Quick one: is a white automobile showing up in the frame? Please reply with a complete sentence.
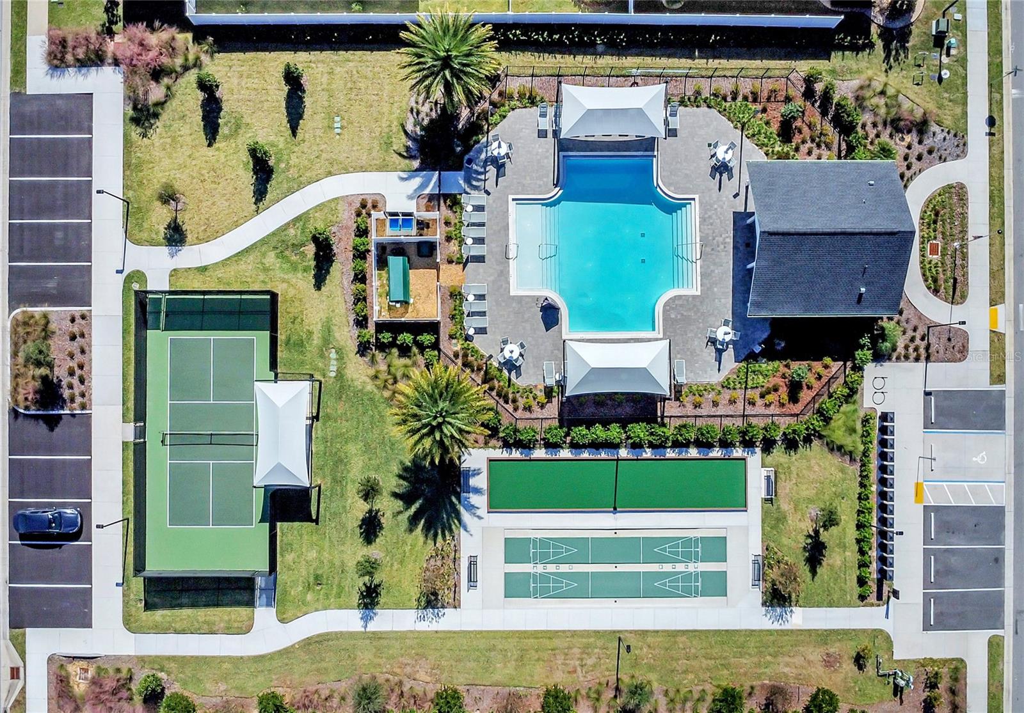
No, the scene contains no white automobile.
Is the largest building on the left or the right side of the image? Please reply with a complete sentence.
The largest building sits on the right side.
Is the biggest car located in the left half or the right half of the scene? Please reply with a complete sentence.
The biggest car appears in the left half of the scene.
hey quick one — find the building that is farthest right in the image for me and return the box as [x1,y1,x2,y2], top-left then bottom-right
[743,160,914,318]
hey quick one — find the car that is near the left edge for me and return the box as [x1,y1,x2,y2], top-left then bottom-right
[13,508,78,540]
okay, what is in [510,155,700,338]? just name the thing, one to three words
swimming pool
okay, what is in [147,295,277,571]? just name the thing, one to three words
sports court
